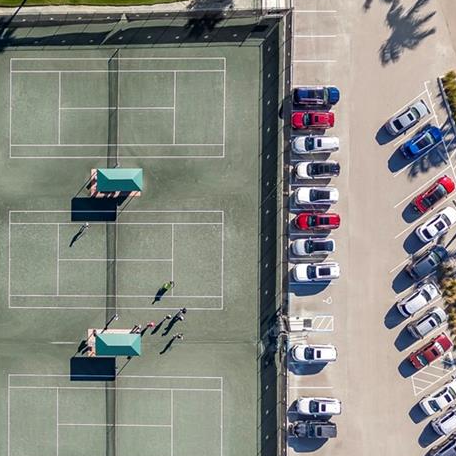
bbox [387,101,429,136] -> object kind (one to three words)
car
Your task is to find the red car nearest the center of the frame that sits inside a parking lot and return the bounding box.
[295,211,340,231]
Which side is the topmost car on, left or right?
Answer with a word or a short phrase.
right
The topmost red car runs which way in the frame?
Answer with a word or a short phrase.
from left to right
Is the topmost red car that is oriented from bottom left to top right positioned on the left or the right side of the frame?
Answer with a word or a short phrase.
right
